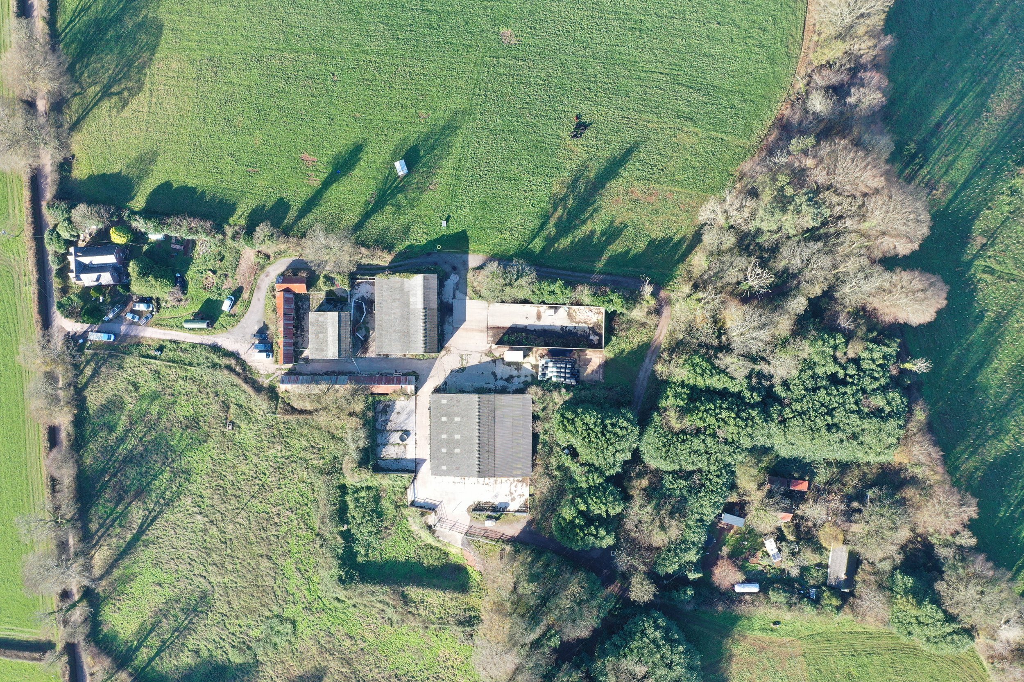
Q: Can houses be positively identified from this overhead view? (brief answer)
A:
Yes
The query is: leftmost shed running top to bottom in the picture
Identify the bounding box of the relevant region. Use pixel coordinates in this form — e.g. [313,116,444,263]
[276,291,295,364]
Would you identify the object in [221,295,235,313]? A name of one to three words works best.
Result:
vehicle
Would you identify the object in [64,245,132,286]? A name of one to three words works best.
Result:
house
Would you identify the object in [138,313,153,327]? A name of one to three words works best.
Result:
car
